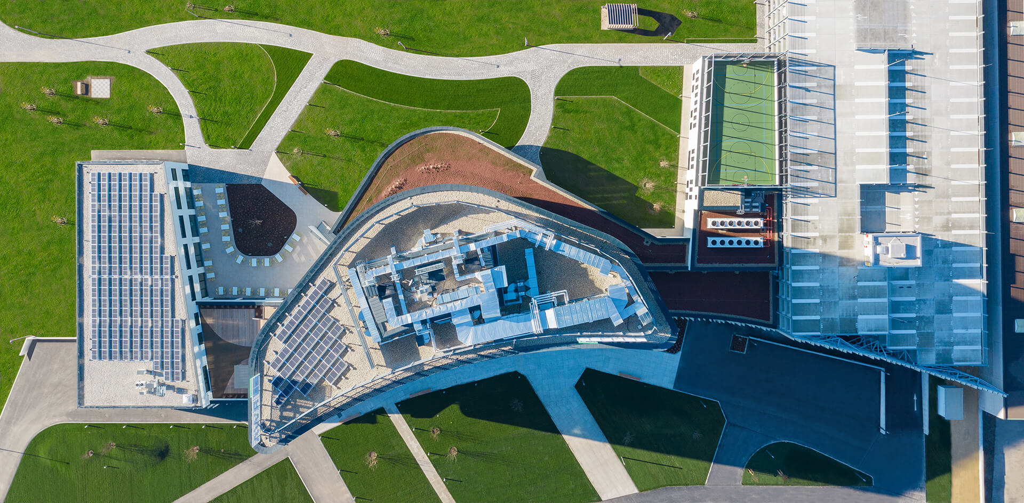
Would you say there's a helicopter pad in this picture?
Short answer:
No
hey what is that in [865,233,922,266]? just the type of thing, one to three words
house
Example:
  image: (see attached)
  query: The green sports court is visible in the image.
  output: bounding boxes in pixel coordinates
[708,61,774,184]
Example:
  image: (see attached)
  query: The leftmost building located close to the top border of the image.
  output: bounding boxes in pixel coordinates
[601,3,638,30]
